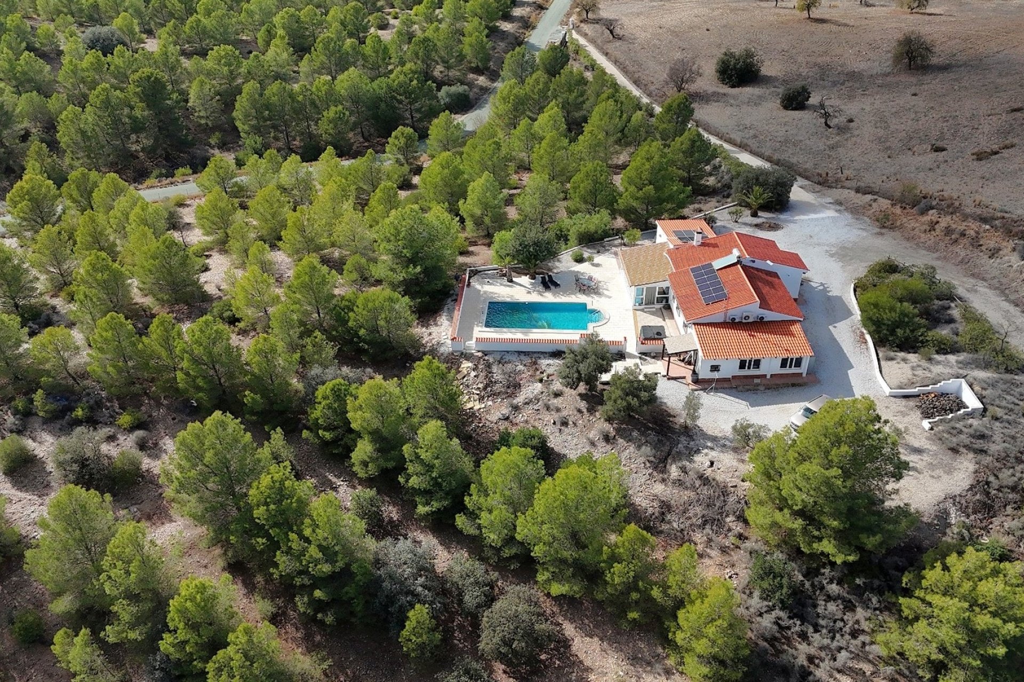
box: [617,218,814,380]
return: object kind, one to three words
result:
house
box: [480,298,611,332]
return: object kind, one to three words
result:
swimming pool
